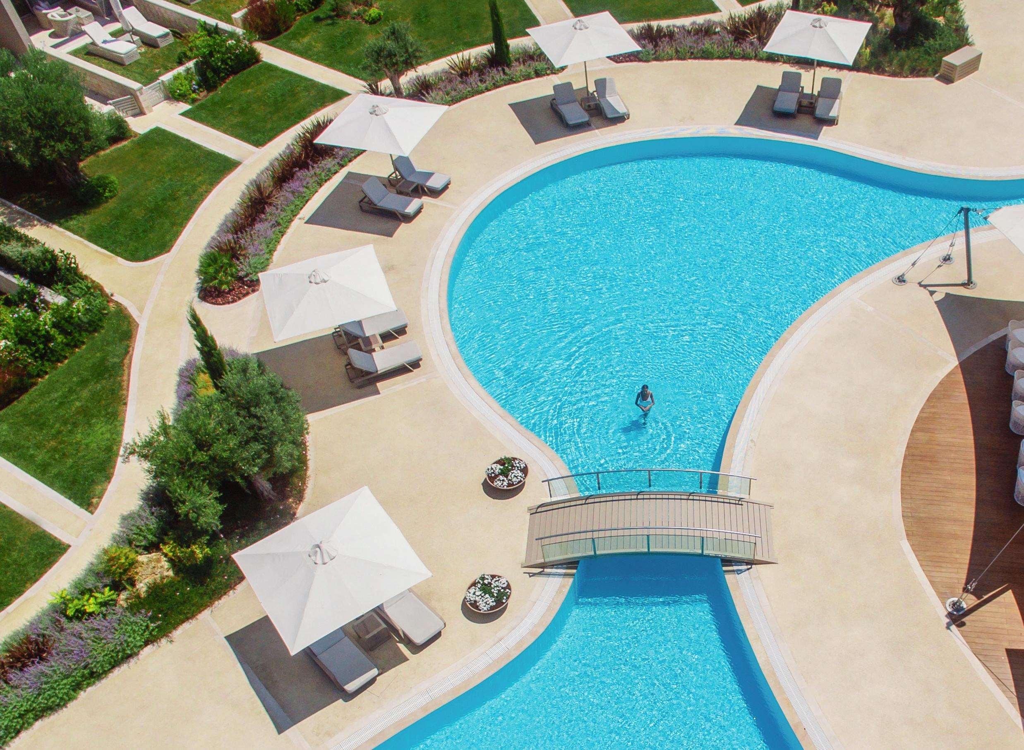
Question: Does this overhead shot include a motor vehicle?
No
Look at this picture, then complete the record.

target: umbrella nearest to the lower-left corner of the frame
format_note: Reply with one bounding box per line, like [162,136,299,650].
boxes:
[229,488,430,658]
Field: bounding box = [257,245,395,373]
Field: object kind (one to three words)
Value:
umbrella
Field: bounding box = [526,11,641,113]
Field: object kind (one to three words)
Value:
umbrella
